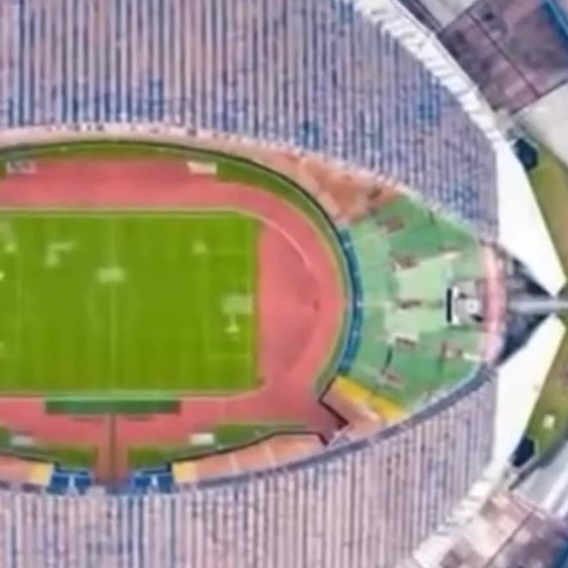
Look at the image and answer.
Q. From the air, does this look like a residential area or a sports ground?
sports ground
